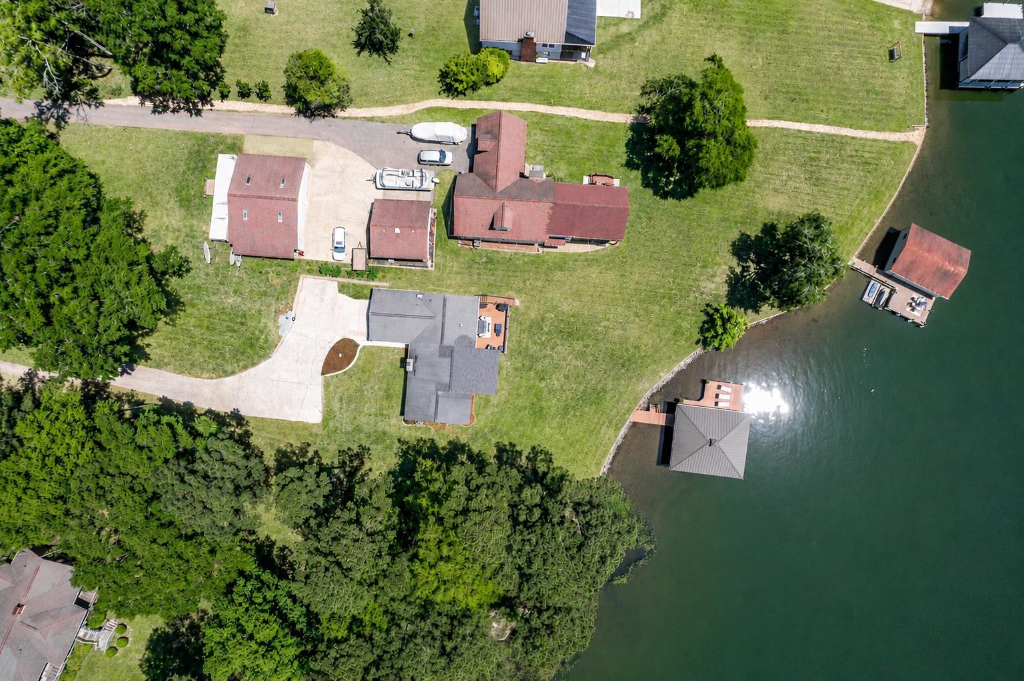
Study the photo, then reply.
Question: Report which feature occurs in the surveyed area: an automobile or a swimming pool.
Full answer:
I can see an automobile in this picture.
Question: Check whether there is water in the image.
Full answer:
Yes, water shows up in the scene.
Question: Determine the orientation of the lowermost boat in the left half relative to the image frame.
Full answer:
In this picture, the lowermost boat in the left half is oriented from left to right.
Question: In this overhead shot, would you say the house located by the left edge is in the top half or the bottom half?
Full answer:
Seen from above, the house located by the left edge lies in the bottom half of the view.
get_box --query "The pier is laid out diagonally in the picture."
[849,261,937,328]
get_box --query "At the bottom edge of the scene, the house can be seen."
[0,548,99,681]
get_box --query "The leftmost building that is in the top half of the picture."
[207,152,310,260]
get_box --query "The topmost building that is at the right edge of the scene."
[953,16,1024,90]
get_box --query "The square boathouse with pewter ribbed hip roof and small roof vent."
[670,403,754,480]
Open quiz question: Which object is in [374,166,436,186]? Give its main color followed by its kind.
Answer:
white boat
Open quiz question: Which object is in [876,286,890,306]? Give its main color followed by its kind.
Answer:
white boat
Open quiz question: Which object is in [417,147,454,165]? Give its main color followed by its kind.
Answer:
white car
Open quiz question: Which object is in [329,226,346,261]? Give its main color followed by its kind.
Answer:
white car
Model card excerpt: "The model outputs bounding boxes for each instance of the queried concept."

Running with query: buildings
[453,114,628,248]
[953,16,1024,90]
[369,288,498,424]
[370,198,431,266]
[878,222,971,299]
[207,152,310,260]
[479,0,598,67]
[0,548,99,681]
[670,403,754,480]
